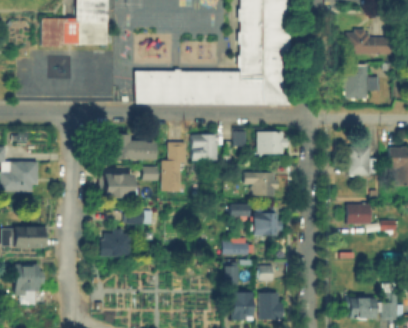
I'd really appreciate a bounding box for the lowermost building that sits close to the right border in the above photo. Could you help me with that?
[350,294,404,320]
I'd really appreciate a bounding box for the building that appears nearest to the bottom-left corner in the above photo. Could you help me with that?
[16,264,44,305]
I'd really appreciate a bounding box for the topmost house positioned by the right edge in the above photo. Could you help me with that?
[348,28,392,55]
